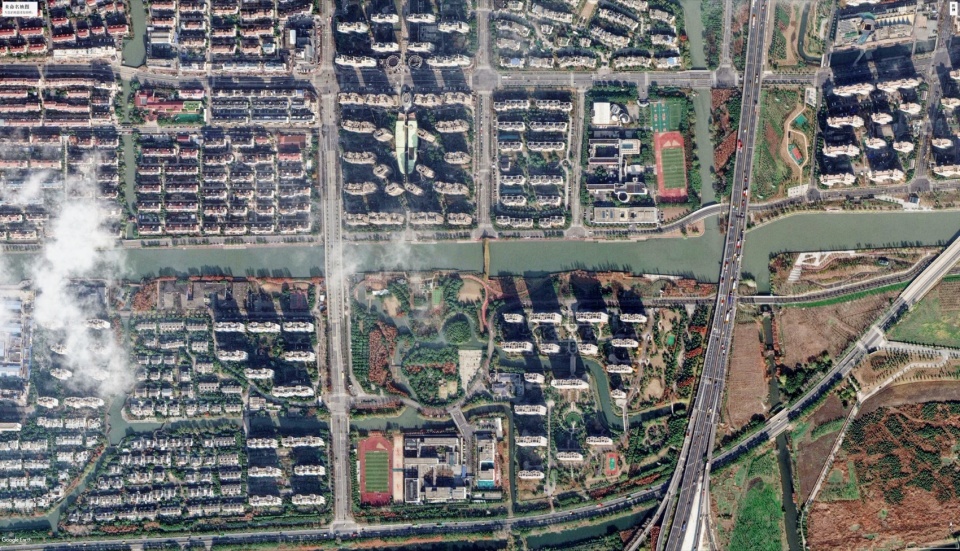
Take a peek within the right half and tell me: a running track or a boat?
running track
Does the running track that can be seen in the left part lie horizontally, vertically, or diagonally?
vertically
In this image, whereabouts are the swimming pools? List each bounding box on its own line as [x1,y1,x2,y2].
[501,187,523,194]
[499,134,519,140]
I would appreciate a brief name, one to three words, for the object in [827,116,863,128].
building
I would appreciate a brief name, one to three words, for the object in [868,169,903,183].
building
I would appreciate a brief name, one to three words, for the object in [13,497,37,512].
house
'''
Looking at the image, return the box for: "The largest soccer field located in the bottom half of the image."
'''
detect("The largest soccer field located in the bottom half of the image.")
[366,452,389,492]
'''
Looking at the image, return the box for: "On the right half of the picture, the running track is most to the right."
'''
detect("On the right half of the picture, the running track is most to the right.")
[654,131,687,201]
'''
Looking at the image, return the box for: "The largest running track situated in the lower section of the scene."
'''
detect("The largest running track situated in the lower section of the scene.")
[359,430,393,503]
